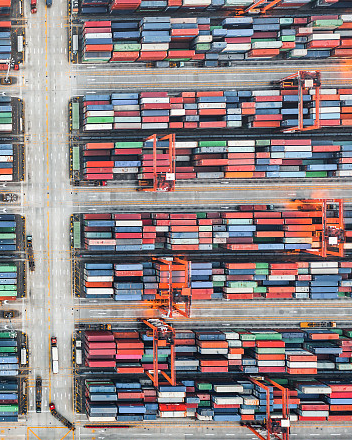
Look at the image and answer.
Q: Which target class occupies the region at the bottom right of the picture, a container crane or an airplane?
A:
container crane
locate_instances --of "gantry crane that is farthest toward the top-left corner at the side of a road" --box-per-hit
[135,134,176,194]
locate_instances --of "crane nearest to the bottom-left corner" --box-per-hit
[137,320,175,388]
